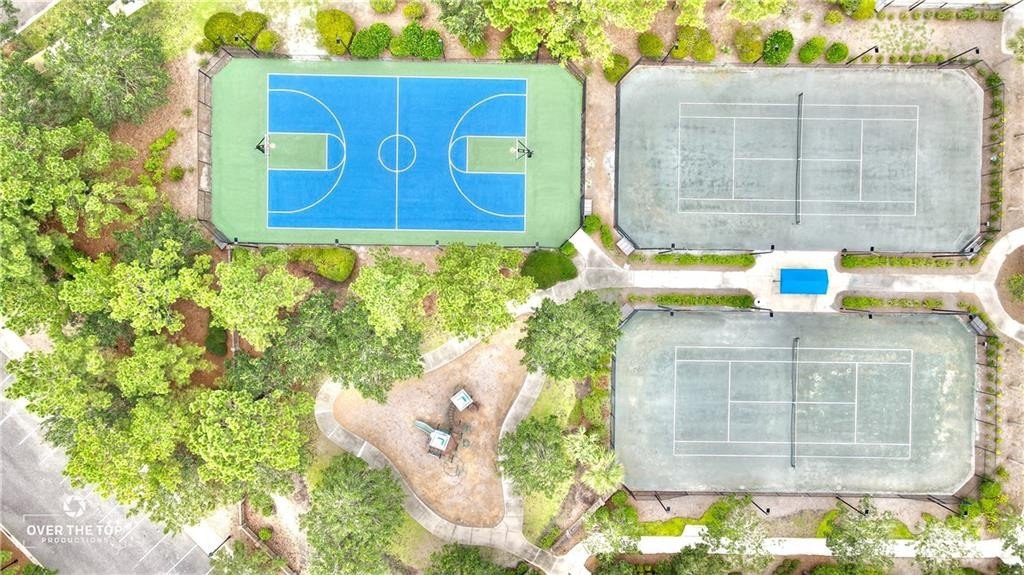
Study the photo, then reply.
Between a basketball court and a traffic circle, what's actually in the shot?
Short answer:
basketball court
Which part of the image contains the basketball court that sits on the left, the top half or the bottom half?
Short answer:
top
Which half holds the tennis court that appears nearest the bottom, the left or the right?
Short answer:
right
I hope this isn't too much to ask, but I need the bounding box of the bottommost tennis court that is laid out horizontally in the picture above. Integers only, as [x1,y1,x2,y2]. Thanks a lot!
[611,310,977,495]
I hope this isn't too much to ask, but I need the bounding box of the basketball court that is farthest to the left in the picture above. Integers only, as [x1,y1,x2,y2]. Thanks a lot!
[211,57,583,247]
